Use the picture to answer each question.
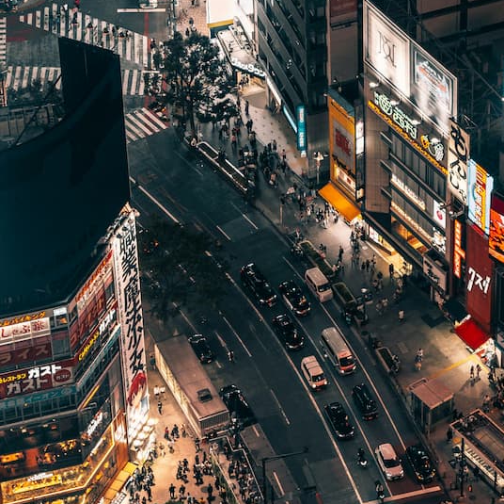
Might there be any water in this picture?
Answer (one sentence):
No, the scene doesn't show any water.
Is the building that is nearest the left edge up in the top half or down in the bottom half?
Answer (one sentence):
You can find the building that is nearest the left edge in the top half.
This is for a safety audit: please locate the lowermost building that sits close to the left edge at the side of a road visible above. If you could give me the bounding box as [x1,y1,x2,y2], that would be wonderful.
[0,199,170,504]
